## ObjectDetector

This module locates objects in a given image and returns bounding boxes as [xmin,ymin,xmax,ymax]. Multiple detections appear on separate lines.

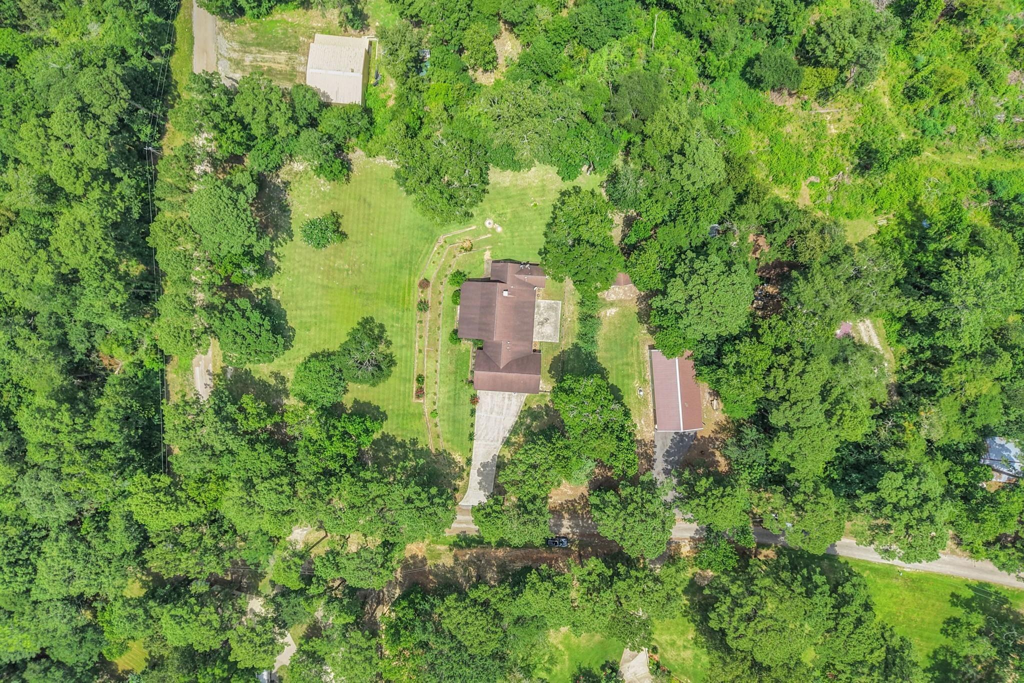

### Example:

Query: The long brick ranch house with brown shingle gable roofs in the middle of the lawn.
[457,263,546,393]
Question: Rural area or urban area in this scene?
rural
